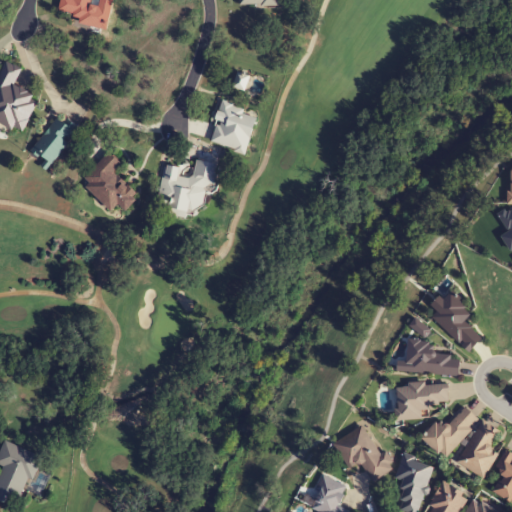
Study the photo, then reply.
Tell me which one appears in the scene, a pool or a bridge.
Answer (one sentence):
Looking from above, you can make out a pool.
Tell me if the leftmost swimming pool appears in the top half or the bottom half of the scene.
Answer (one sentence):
The leftmost swimming pool sits in the bottom half of the picture.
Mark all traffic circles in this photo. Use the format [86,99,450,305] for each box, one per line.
[473,354,512,424]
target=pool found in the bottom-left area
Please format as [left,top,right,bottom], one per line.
[28,470,50,492]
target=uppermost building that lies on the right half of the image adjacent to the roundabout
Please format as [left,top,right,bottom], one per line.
[433,292,485,352]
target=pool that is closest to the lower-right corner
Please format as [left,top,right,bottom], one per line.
[378,384,396,413]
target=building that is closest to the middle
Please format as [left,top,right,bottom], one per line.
[160,159,216,212]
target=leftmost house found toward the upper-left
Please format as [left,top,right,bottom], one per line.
[0,61,34,132]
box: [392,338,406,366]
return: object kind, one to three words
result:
swimming pool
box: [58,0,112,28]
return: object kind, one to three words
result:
house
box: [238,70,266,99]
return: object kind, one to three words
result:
swimming pool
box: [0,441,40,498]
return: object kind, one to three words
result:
house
